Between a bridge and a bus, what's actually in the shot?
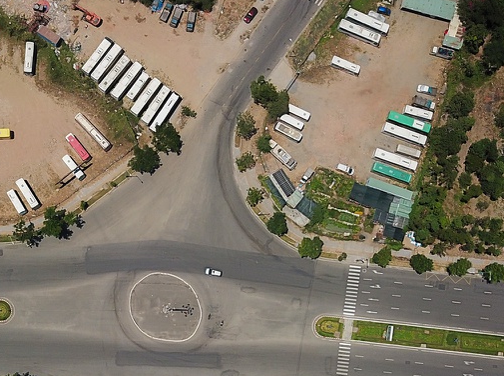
bus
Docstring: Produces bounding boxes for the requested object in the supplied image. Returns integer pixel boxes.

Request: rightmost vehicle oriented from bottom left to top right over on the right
[299,167,317,186]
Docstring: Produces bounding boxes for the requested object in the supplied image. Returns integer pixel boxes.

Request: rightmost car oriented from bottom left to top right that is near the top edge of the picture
[244,7,259,24]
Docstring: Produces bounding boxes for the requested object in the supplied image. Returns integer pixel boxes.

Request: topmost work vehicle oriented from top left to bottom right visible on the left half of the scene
[73,5,104,29]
